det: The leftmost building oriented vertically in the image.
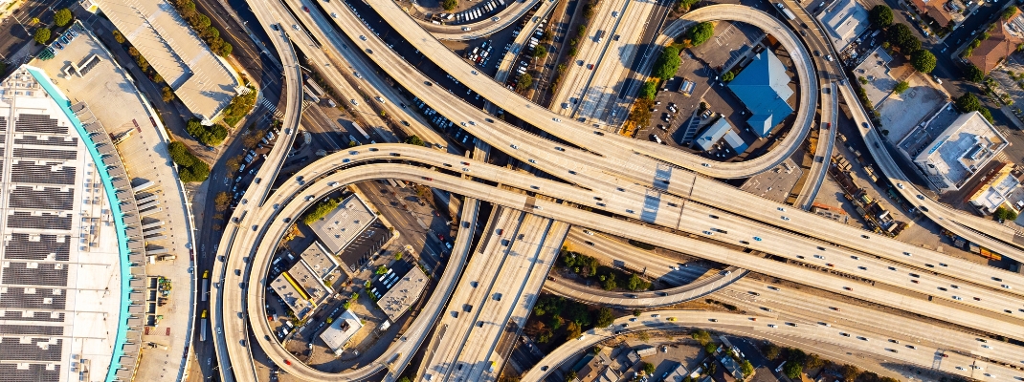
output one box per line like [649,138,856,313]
[0,60,137,382]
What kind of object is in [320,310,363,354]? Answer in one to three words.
shed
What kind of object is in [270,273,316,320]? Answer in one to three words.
building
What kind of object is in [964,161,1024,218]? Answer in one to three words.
building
